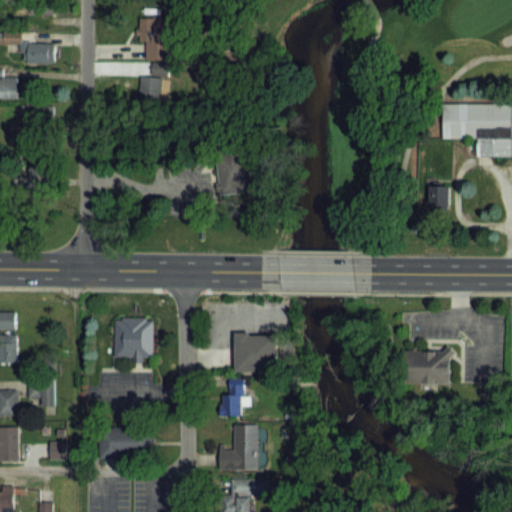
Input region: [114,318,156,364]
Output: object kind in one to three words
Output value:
building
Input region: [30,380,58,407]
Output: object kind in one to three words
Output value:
building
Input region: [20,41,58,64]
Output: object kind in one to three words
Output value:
house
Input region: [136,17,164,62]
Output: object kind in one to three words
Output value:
house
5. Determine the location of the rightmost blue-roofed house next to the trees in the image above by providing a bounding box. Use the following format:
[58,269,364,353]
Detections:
[220,380,254,419]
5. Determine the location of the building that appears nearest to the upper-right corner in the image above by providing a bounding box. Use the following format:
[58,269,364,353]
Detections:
[442,104,512,158]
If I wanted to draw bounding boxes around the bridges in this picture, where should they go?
[260,252,376,296]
